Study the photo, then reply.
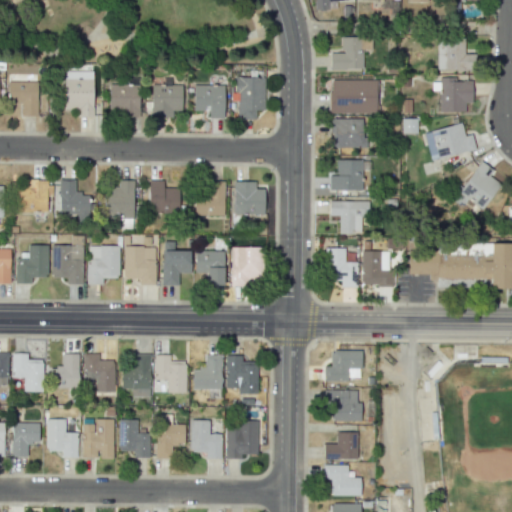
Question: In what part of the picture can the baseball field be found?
bottom right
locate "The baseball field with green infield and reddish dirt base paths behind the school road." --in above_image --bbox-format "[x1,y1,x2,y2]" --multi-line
[459,385,512,482]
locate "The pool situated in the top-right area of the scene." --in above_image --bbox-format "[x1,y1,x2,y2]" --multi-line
[464,6,482,18]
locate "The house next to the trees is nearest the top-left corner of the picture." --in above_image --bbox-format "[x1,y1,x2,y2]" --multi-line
[10,82,39,117]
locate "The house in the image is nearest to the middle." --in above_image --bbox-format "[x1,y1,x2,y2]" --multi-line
[232,248,264,288]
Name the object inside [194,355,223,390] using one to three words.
house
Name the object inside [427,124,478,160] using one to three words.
house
